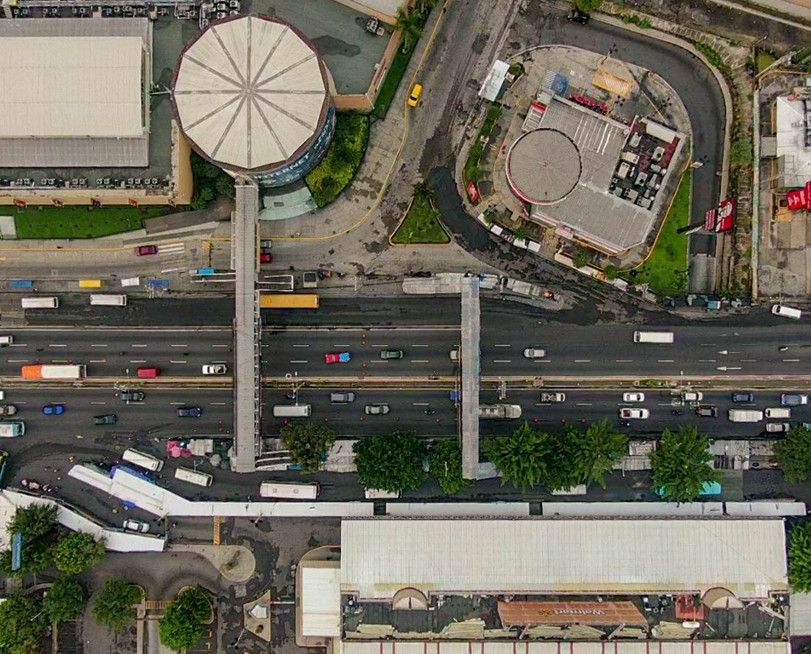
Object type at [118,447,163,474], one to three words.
vehicle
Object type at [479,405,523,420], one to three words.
vehicle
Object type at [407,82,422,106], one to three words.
car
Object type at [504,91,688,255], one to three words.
building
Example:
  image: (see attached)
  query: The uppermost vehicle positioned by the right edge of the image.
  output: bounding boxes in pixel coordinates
[772,302,805,320]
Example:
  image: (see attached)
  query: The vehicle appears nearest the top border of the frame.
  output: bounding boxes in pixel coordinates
[569,7,589,21]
